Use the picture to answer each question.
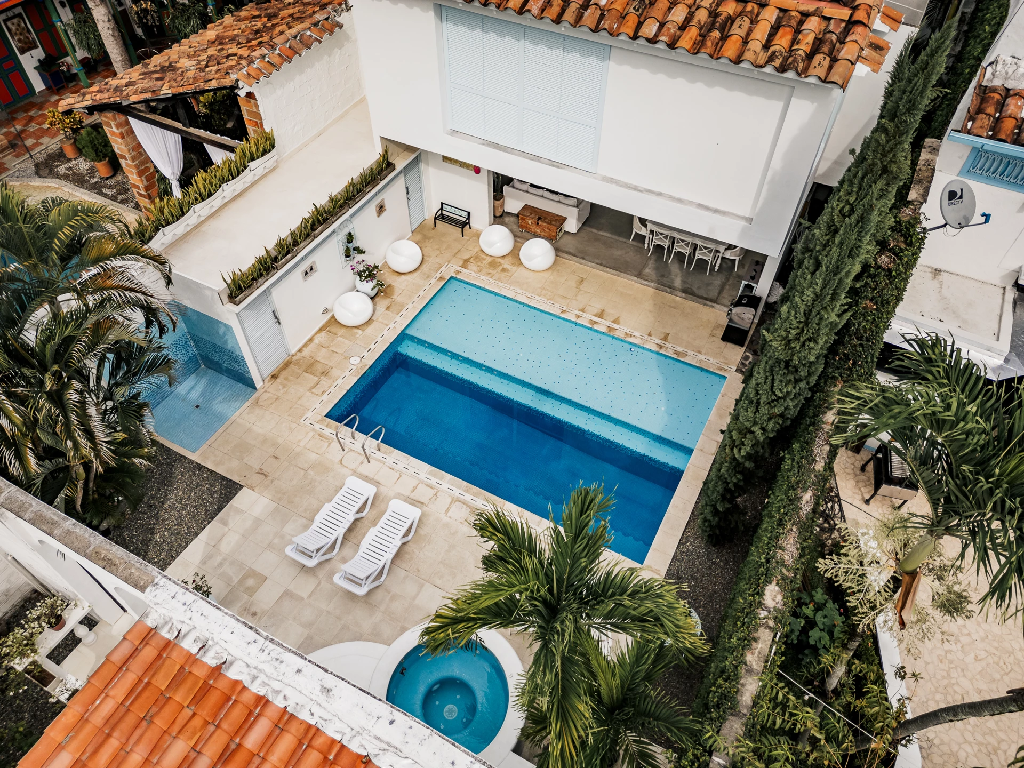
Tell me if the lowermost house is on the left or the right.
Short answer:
left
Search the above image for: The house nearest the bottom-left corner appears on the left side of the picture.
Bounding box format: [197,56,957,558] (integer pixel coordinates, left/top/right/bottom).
[41,609,411,768]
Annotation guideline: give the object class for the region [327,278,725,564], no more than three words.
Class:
swimming pool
